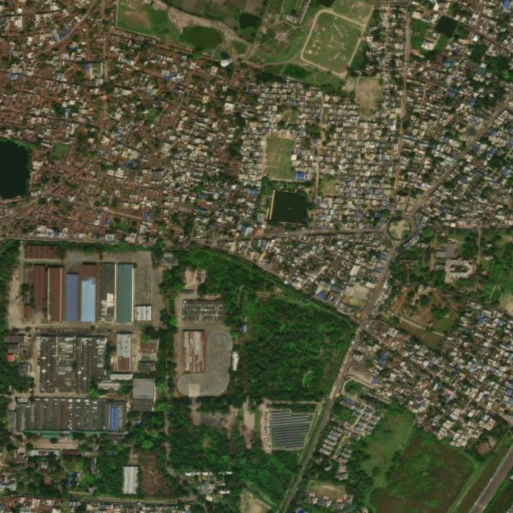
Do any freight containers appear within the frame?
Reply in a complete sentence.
No, this view has no freight container in it.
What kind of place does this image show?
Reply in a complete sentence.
It's a residential area.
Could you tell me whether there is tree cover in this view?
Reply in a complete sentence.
Yes, tree cover can be seen from above here.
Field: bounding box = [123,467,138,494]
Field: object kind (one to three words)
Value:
building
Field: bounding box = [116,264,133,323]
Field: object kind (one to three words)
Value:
shed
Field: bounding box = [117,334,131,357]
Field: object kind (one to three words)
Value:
building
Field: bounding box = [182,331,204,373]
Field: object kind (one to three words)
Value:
shed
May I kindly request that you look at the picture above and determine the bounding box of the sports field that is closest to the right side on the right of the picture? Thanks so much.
[356,77,382,117]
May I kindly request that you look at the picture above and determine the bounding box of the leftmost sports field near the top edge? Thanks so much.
[117,0,181,44]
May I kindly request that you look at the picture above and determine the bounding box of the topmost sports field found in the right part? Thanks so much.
[301,0,376,79]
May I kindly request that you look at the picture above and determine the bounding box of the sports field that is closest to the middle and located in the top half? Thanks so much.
[263,133,297,182]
